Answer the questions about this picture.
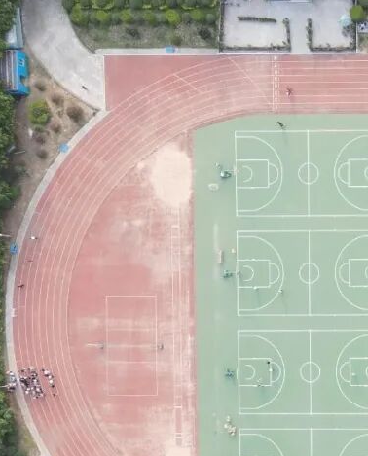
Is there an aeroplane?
No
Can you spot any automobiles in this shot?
No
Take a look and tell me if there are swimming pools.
No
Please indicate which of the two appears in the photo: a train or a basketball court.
basketball court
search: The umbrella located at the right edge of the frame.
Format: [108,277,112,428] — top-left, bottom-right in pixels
[338,12,352,27]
